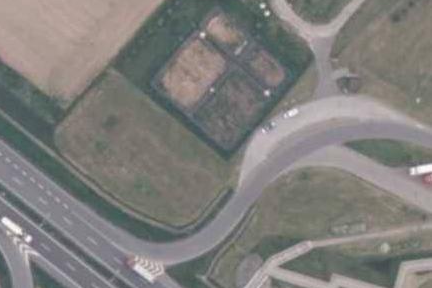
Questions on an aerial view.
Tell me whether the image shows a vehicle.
Yes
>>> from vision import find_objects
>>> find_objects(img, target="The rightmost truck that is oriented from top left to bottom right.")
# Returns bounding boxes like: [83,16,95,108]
[122,254,157,284]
